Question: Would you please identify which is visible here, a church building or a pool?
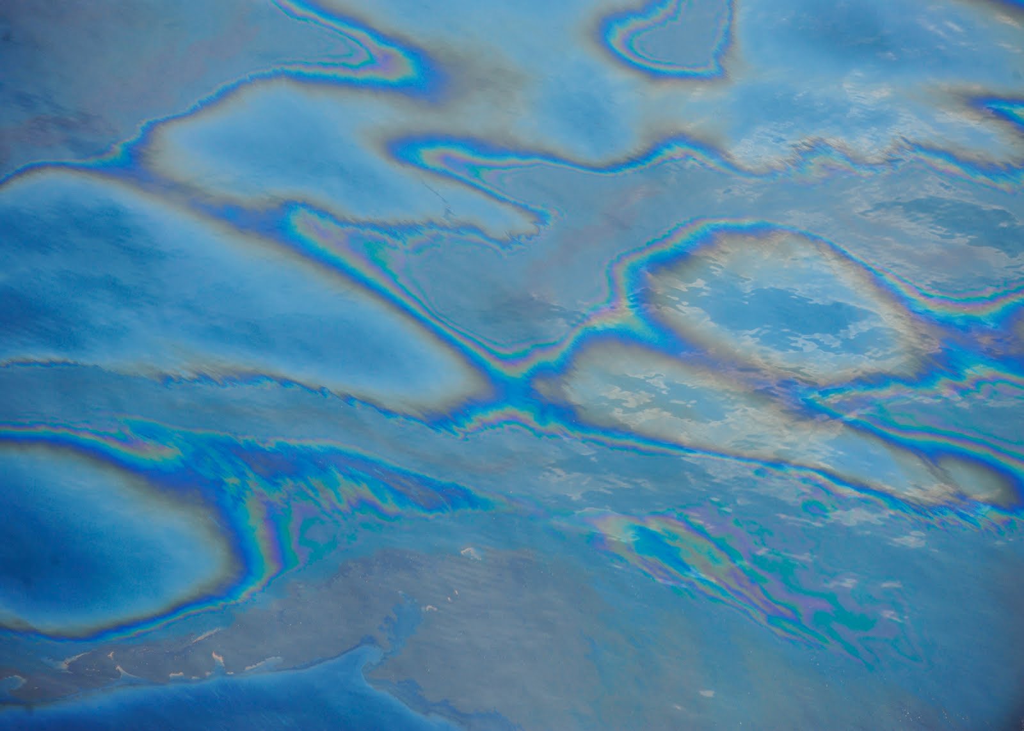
pool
